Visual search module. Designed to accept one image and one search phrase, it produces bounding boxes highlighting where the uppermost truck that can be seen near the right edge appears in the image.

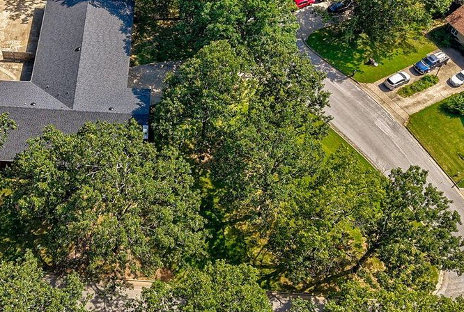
[414,46,455,73]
